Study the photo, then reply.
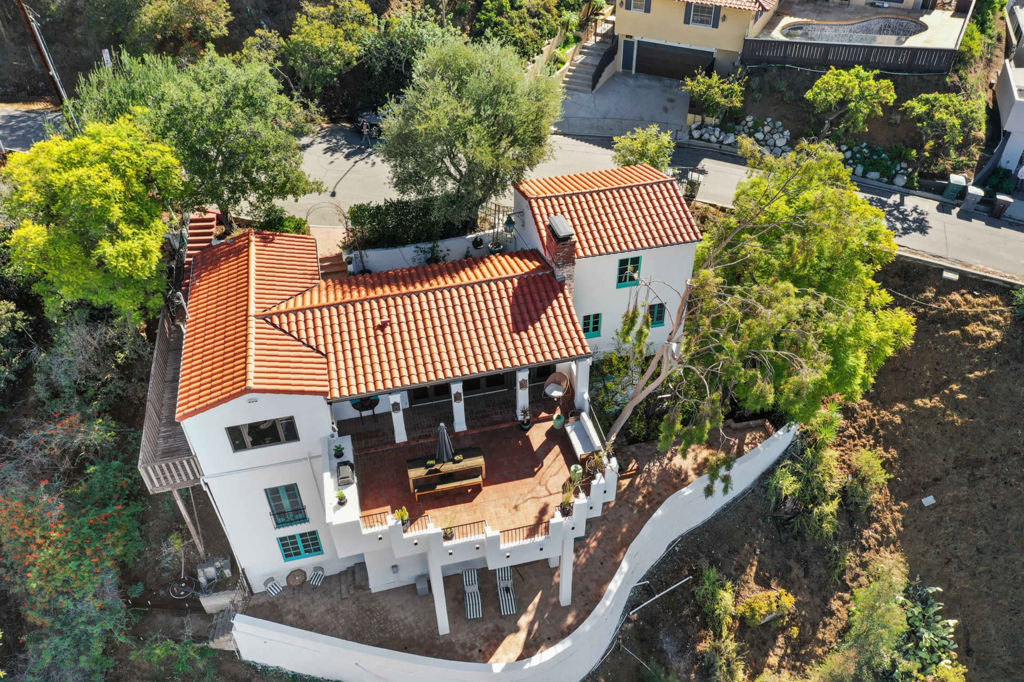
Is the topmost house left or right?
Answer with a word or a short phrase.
right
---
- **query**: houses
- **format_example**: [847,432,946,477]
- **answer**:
[614,0,769,83]
[990,7,1024,189]
[133,162,706,636]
